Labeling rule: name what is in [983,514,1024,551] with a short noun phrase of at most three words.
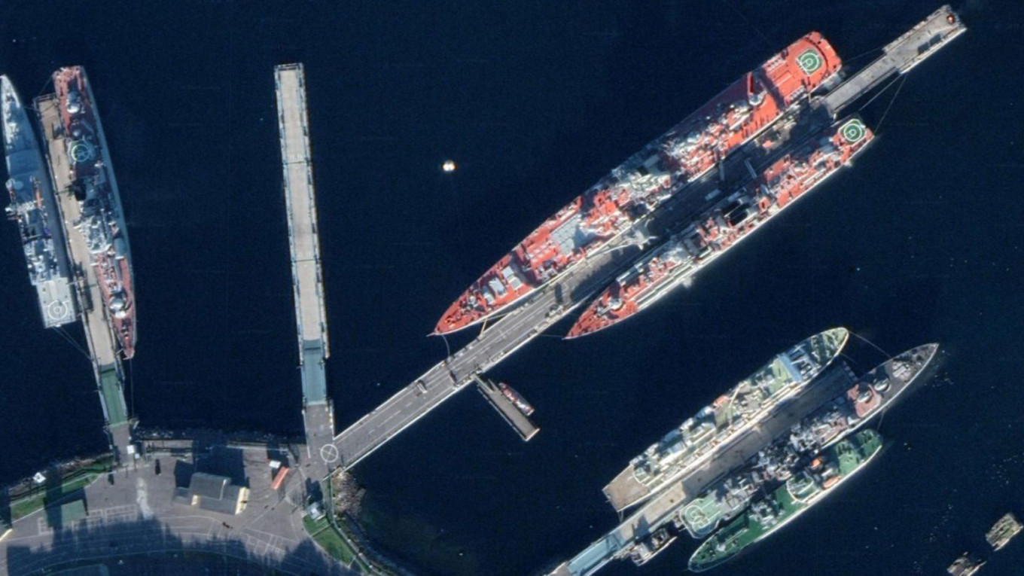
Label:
boat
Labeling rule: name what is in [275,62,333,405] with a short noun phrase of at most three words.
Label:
pier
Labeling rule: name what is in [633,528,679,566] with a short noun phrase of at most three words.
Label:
ship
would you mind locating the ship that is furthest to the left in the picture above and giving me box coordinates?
[0,74,80,329]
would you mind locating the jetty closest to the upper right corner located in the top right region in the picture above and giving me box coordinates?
[883,5,964,76]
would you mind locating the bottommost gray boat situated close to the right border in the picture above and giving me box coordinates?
[945,550,987,576]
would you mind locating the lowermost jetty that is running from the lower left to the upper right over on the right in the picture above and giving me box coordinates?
[565,357,861,576]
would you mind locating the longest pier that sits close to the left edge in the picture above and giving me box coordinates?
[34,92,140,468]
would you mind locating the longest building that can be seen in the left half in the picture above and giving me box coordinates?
[173,472,248,514]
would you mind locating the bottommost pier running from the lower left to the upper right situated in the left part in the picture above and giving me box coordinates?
[329,353,466,469]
